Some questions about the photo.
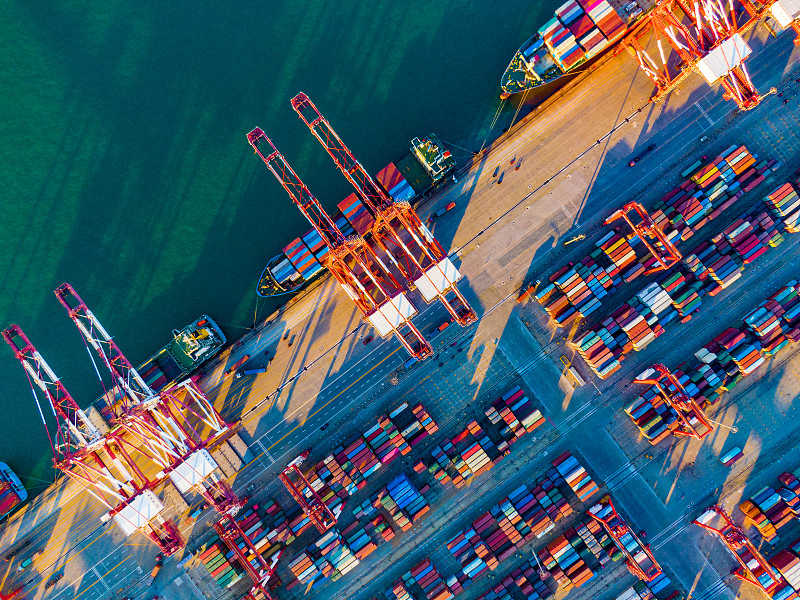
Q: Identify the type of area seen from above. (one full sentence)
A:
The picture captures a port.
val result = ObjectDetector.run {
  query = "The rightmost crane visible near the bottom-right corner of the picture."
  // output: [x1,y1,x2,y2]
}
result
[689,500,786,595]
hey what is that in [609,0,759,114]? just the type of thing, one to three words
container crane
